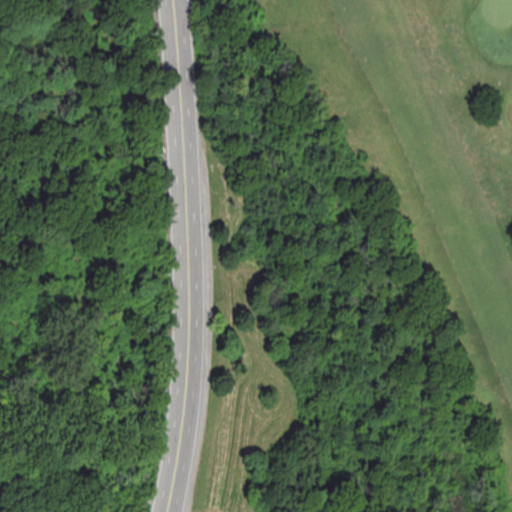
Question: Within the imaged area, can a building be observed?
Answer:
No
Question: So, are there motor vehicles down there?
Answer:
No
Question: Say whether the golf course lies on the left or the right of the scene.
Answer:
right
